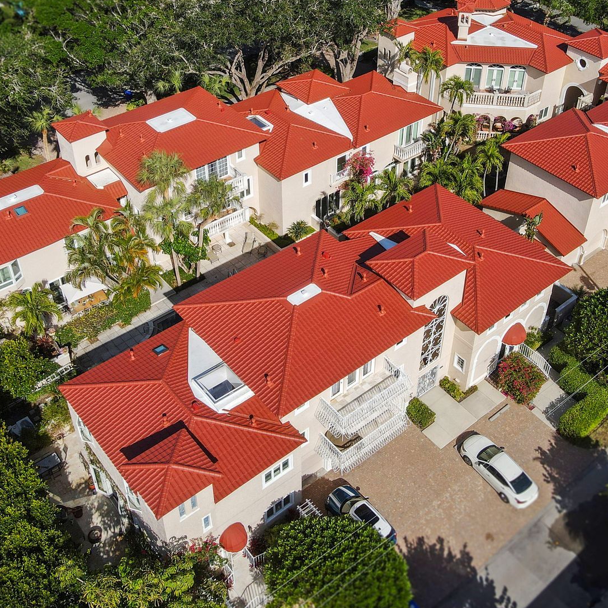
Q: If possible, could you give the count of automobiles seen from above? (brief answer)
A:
2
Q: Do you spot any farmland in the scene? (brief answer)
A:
No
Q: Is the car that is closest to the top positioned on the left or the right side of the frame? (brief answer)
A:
right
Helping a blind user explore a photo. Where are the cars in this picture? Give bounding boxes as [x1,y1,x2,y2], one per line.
[457,431,544,508]
[328,486,395,552]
